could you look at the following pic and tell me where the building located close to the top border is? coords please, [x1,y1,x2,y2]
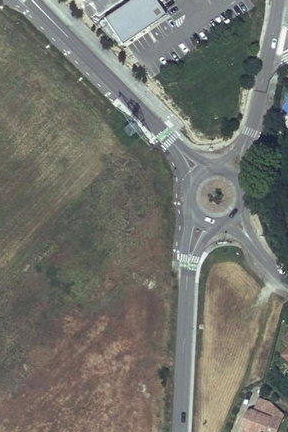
[106,0,167,44]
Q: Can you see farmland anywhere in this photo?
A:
Yes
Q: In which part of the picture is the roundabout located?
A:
right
